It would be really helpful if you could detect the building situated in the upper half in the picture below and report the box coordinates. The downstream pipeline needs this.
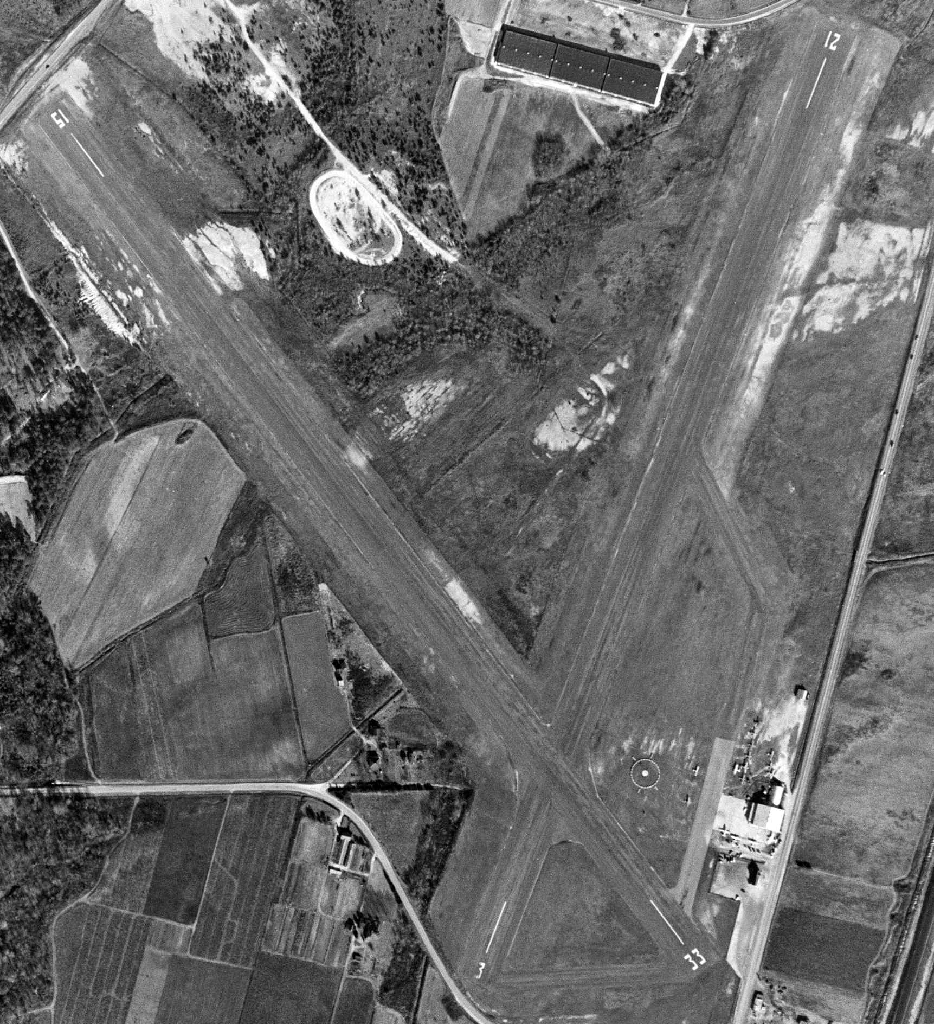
[496,30,663,110]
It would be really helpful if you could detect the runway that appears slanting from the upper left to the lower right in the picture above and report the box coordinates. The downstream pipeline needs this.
[43,103,724,983]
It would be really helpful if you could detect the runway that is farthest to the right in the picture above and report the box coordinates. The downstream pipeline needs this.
[455,26,860,980]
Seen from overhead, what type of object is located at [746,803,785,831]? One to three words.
hangar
